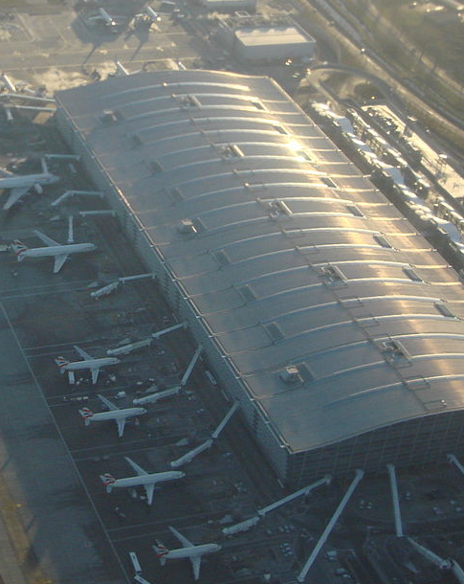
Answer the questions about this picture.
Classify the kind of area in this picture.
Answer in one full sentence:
This image shows an airport.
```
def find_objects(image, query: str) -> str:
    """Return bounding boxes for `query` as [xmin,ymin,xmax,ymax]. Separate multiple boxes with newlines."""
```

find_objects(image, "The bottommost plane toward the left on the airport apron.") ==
[151,529,220,580]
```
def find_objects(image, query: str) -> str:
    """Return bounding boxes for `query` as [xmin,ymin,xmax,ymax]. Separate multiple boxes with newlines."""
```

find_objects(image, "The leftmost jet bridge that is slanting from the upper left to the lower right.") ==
[387,463,452,573]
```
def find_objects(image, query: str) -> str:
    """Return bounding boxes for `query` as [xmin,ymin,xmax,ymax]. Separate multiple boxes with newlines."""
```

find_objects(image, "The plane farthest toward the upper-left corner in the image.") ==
[0,75,32,95]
